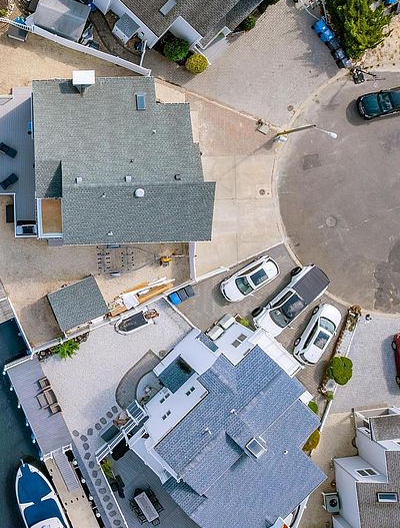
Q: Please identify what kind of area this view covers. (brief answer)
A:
residential area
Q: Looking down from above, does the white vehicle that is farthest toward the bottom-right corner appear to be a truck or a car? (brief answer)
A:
car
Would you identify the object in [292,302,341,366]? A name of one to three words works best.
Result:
car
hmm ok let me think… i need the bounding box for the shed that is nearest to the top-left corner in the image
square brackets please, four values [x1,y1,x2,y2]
[34,0,91,43]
